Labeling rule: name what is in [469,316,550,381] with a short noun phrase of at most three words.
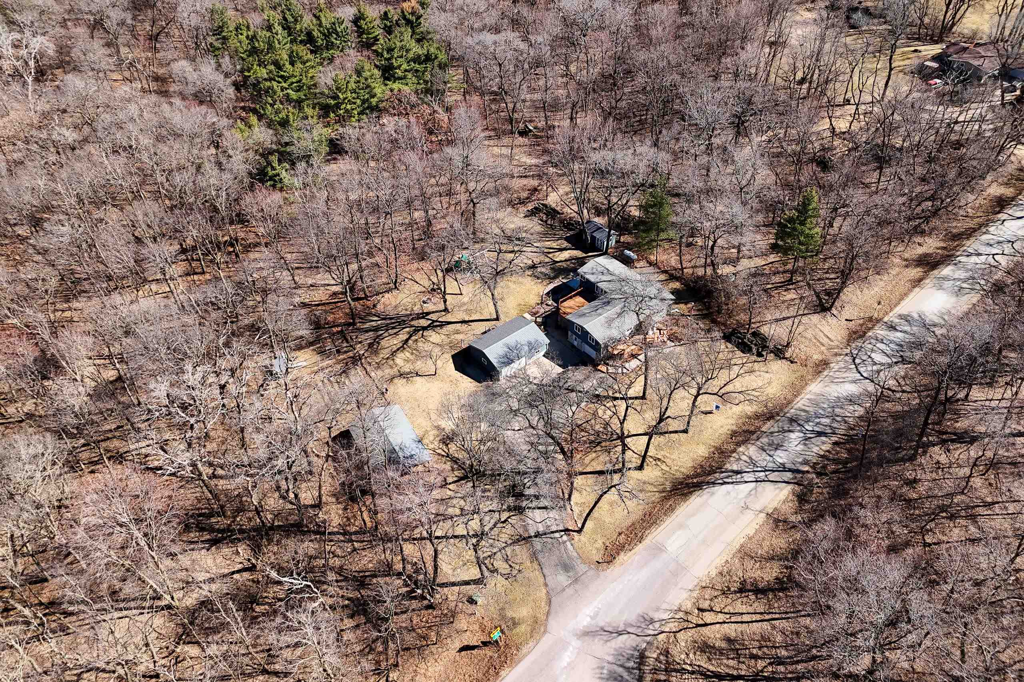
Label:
building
